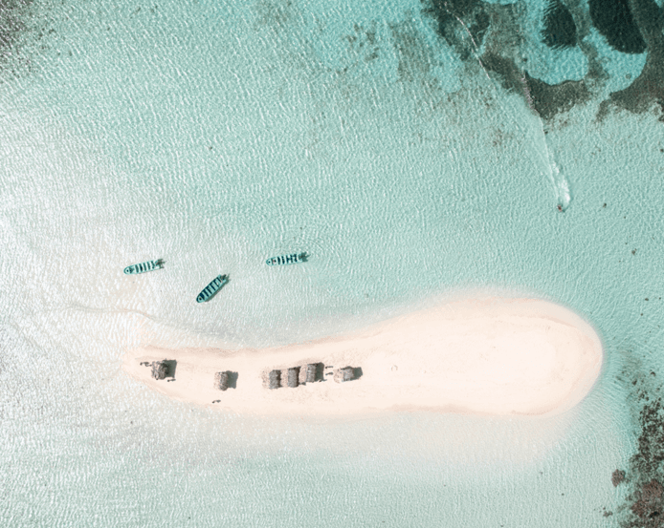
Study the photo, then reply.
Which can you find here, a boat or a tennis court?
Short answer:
boat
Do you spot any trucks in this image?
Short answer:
No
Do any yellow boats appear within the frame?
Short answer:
No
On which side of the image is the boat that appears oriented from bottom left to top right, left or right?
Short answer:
left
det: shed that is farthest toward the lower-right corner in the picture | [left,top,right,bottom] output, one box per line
[331,366,358,383]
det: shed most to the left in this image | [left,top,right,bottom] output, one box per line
[149,359,170,380]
